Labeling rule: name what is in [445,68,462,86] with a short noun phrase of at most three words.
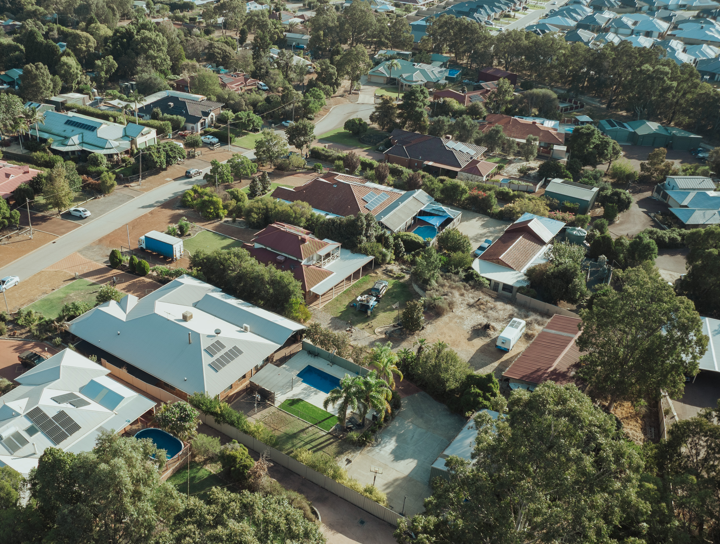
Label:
swimming pool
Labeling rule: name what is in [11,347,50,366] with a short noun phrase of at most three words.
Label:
vehicle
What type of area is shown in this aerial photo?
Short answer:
residential area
